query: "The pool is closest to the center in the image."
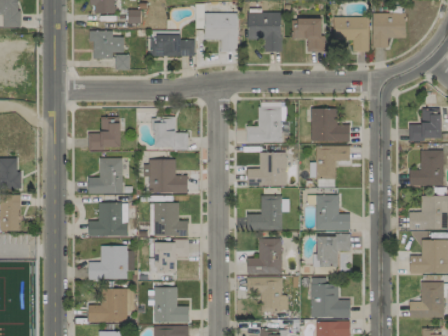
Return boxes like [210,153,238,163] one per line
[140,120,156,146]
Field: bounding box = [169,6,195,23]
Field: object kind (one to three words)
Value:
swimming pool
